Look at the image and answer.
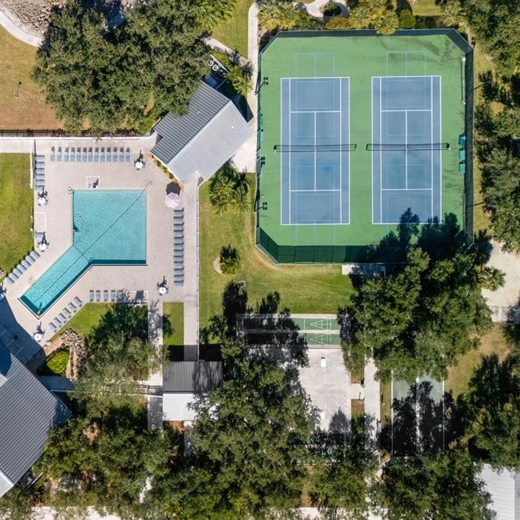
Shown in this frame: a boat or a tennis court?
tennis court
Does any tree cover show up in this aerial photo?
Yes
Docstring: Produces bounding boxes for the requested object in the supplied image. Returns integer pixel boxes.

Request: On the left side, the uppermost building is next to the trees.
[141,80,253,192]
